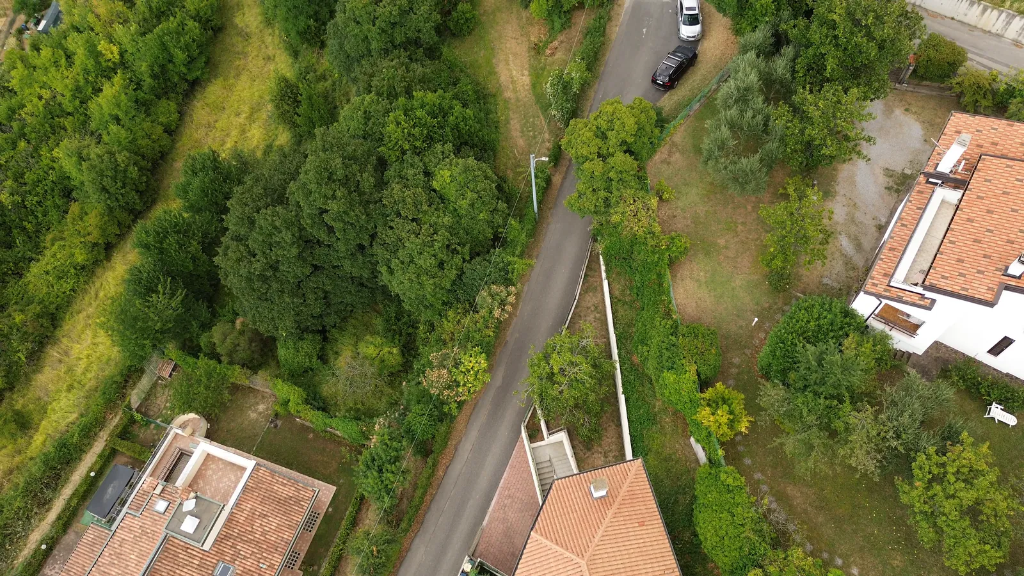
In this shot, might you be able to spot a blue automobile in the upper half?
No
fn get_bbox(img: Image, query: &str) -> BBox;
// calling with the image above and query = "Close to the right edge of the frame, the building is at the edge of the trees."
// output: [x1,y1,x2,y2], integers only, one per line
[851,110,1024,381]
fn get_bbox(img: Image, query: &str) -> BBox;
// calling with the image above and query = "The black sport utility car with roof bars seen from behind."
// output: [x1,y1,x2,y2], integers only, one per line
[653,45,700,90]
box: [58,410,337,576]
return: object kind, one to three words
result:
house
